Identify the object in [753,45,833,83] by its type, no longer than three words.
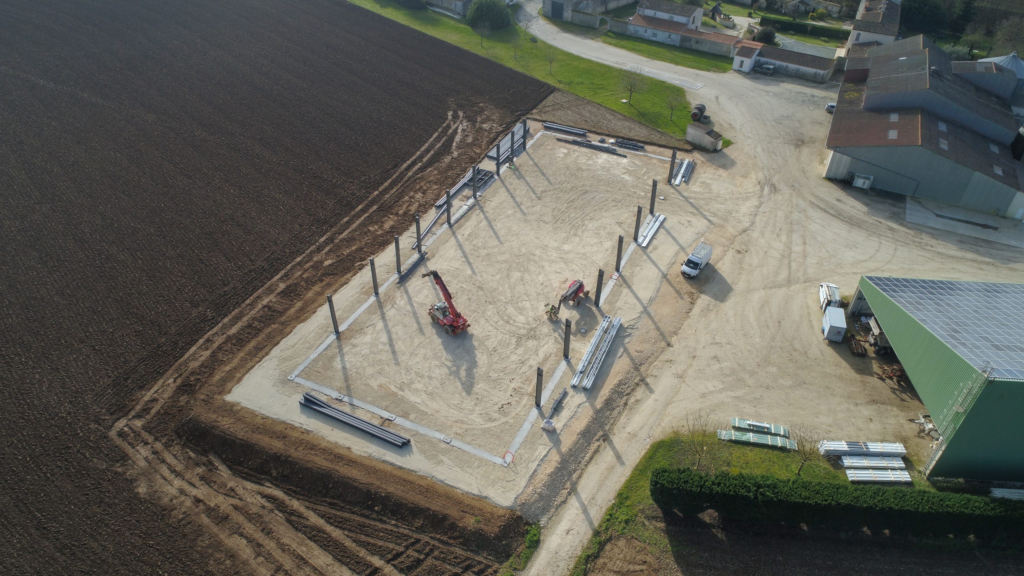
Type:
shed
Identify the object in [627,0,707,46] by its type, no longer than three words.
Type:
house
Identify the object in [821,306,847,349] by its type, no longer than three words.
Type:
trailer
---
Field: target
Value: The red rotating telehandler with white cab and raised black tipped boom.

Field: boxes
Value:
[418,274,473,343]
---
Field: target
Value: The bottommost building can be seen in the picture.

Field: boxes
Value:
[848,274,1024,484]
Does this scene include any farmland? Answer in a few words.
Yes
